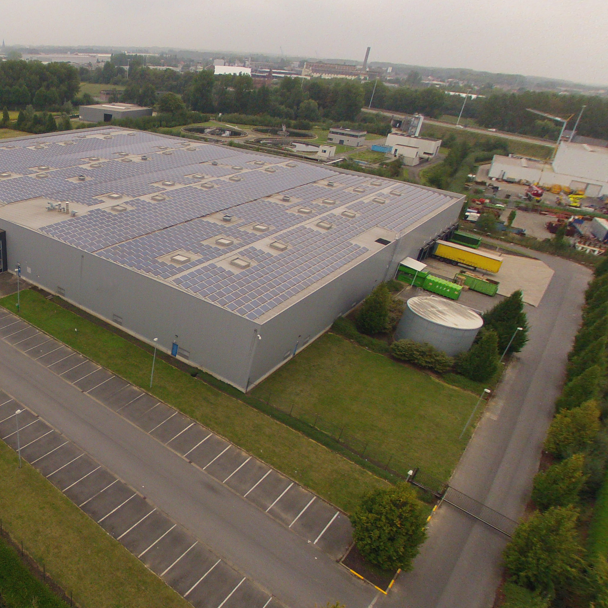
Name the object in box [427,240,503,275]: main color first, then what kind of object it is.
yellow trailer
